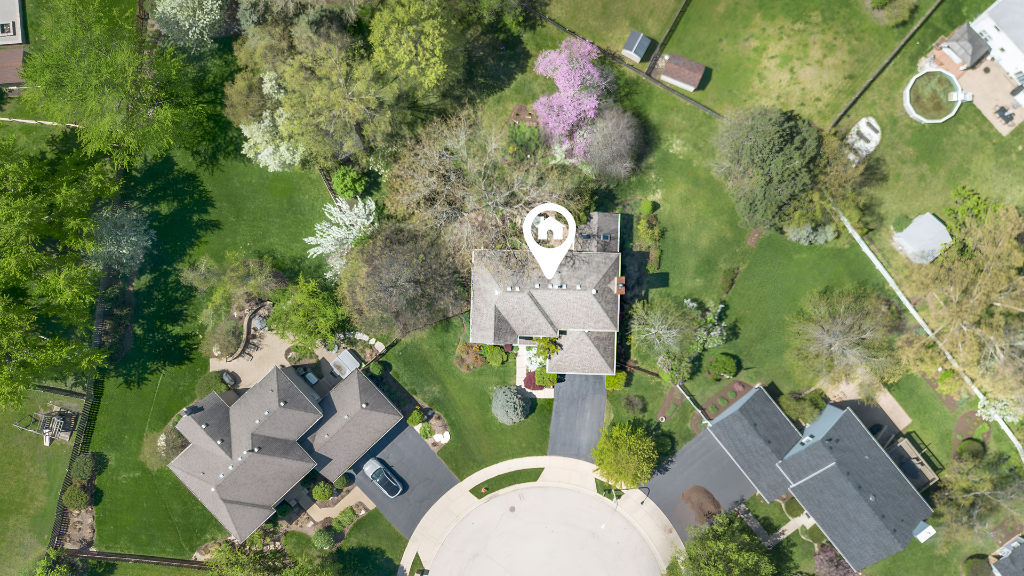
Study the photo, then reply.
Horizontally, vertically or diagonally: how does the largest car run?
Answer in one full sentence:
In this picture, the largest car is oriented diagonally.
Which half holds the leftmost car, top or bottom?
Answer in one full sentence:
The leftmost car is in the bottom half of the image.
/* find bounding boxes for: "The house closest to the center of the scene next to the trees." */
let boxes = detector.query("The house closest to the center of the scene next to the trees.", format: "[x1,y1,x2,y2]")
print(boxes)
[470,212,625,375]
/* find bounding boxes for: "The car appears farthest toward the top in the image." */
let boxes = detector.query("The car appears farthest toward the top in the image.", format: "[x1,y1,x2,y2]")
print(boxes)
[364,455,402,501]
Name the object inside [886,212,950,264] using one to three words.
building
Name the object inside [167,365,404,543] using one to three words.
house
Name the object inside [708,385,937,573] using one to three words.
house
